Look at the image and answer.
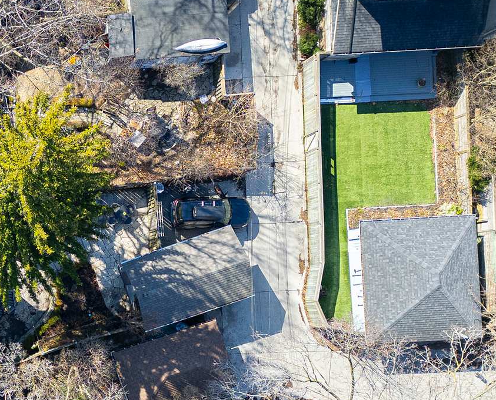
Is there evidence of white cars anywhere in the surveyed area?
No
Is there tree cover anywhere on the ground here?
Yes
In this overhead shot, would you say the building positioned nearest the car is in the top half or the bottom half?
bottom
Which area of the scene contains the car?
center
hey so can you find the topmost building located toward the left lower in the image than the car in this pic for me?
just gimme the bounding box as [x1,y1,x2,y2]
[118,225,255,335]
